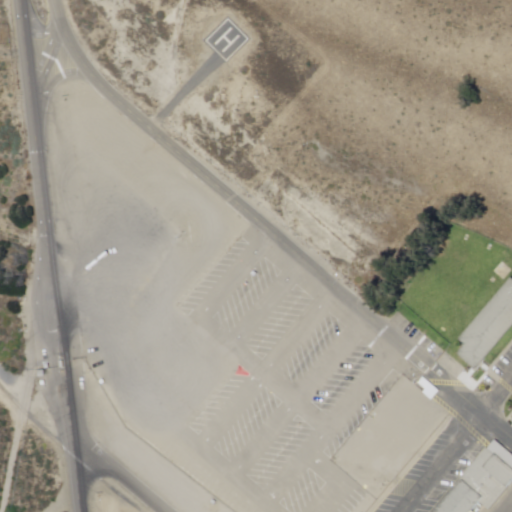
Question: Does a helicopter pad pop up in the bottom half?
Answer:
No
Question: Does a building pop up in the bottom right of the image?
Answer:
Yes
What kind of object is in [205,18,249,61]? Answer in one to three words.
helipad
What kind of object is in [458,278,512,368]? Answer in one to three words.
building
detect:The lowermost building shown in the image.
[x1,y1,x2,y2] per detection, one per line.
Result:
[434,440,512,512]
